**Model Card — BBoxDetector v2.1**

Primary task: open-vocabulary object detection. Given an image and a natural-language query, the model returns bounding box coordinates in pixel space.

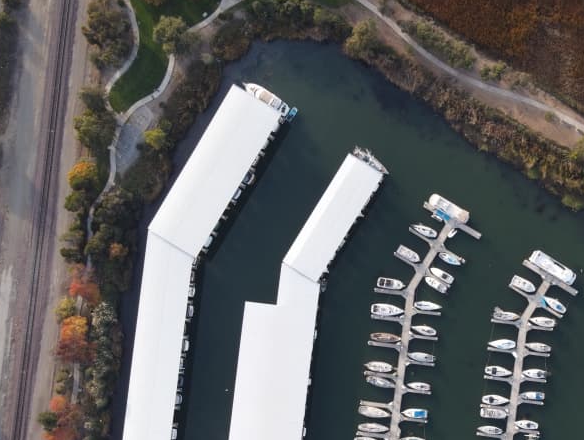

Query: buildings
[229,153,384,440]
[122,84,282,440]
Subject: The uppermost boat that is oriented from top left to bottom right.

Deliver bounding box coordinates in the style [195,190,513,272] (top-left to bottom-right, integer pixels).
[240,80,290,120]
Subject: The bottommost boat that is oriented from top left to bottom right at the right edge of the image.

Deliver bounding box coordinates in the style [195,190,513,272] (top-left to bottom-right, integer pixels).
[545,297,567,315]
